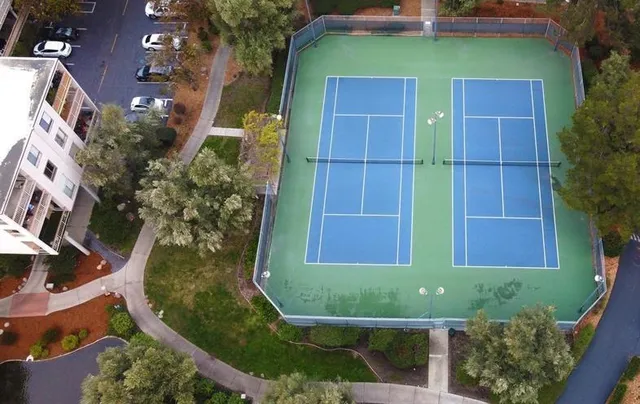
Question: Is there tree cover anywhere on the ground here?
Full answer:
Yes, some tree cover is visible.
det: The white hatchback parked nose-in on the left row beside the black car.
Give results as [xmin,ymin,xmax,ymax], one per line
[34,41,72,59]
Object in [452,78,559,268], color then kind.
blue tennis court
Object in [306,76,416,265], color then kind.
blue tennis court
